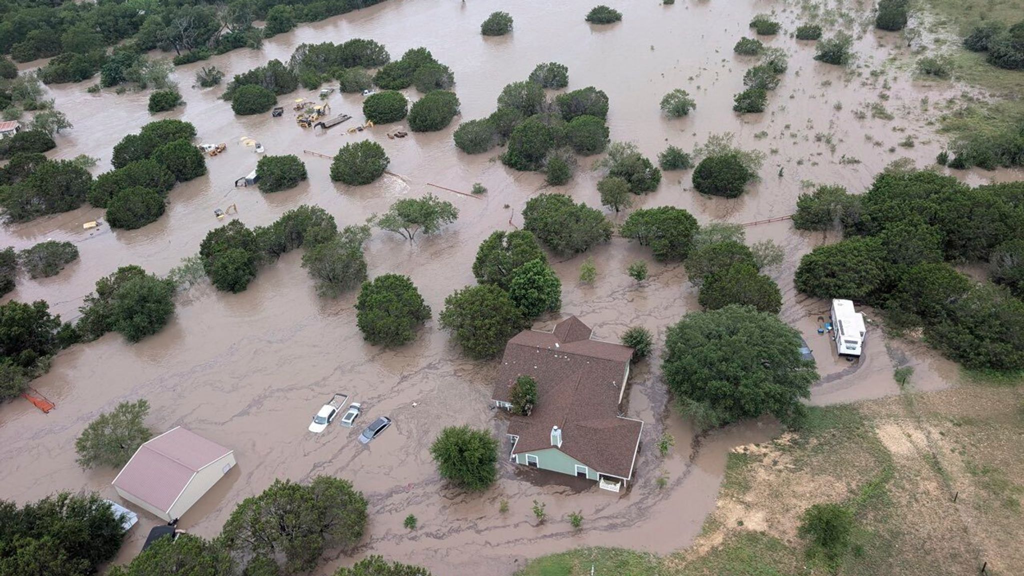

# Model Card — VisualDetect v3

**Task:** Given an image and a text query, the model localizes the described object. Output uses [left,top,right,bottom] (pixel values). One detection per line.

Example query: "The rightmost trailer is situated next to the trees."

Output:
[830,299,867,363]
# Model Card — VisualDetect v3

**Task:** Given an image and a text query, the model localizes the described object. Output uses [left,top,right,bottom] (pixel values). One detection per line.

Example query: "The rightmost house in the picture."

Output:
[490,314,645,492]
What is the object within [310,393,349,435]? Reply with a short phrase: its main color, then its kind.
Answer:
white truck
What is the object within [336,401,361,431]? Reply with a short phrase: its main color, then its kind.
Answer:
white car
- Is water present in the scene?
Yes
